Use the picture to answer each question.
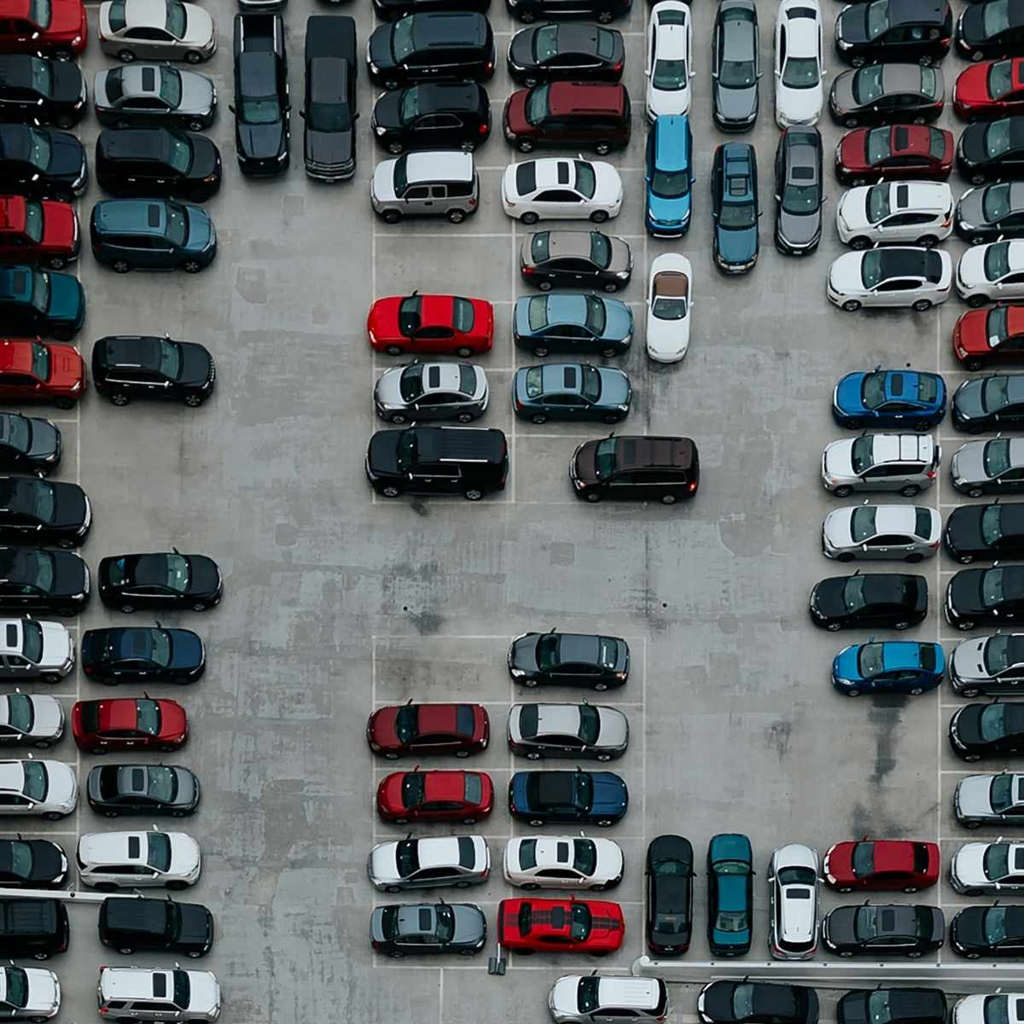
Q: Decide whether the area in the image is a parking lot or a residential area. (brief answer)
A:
parking lot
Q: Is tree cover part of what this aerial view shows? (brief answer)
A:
No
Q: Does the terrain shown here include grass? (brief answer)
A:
No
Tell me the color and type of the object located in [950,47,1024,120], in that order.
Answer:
red car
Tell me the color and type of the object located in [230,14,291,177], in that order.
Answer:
black truck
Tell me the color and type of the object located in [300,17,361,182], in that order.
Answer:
black truck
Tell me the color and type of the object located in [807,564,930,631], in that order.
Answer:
black car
